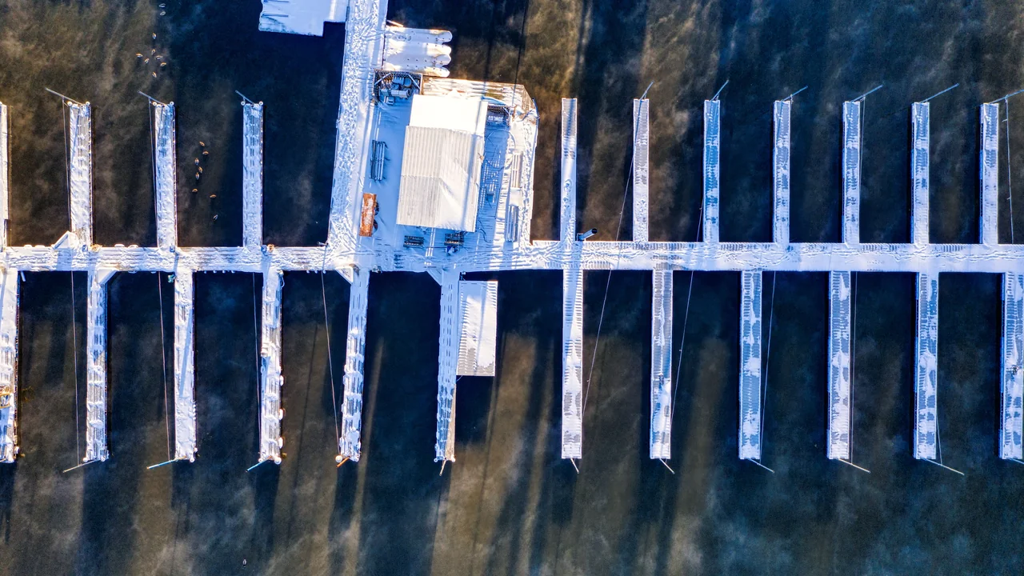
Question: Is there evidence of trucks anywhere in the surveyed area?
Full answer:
No, there's no truck here.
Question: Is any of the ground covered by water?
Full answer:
Yes, the picture does contain water.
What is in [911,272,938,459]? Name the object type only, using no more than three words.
pier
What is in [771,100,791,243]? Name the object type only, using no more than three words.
pier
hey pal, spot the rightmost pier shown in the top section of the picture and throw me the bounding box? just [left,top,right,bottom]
[976,103,999,244]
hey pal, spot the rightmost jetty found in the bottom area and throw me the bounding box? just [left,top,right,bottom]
[996,273,1024,459]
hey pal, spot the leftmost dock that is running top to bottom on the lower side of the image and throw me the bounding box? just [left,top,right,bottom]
[0,271,22,463]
